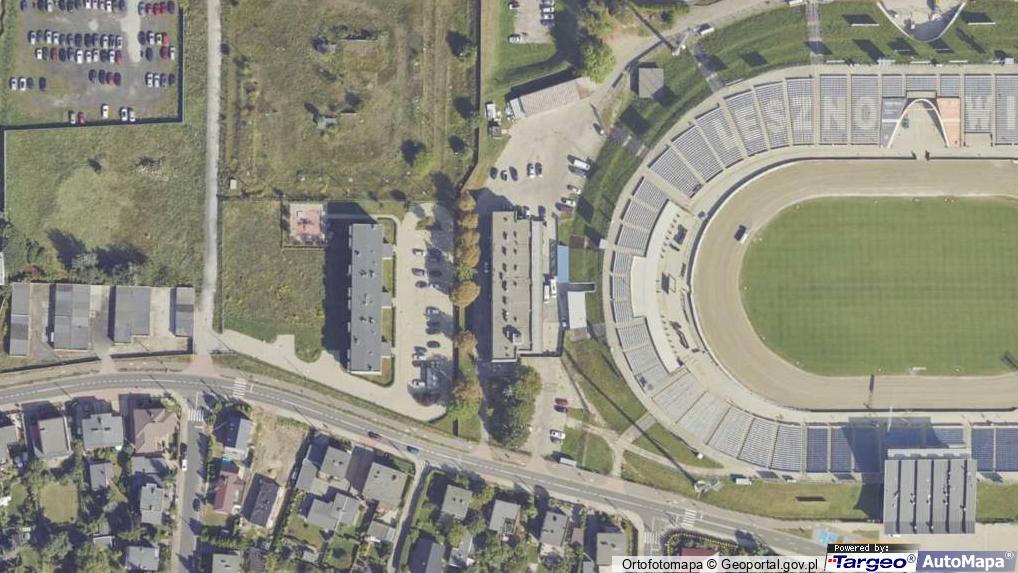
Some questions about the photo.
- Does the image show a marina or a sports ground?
sports ground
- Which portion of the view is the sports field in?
right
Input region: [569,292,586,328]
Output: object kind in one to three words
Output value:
building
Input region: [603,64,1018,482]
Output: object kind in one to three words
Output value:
stadium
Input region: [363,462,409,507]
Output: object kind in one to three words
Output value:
house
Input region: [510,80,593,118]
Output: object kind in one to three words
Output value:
shed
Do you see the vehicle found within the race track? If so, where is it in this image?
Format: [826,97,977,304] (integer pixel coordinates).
[738,230,751,246]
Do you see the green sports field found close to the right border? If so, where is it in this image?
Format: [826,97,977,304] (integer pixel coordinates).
[740,196,1018,376]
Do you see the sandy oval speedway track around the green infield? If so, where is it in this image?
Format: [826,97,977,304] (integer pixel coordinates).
[693,158,1018,412]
